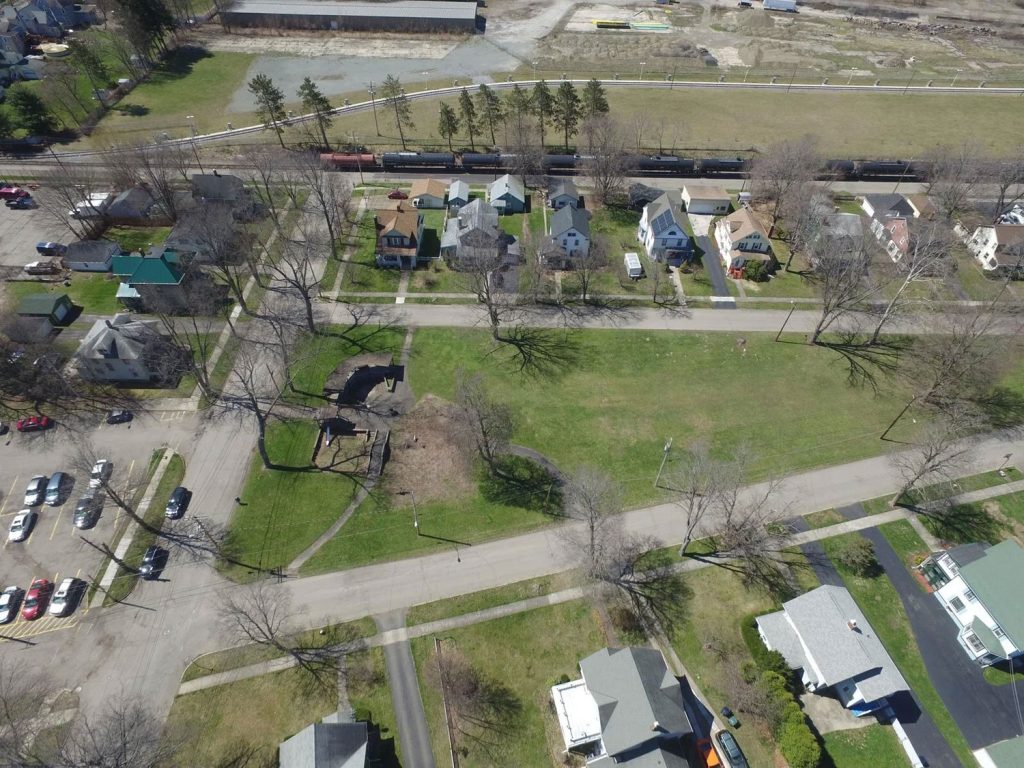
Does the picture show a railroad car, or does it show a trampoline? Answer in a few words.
railroad car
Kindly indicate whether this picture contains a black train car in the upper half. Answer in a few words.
Yes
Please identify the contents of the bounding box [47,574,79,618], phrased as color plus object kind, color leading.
white car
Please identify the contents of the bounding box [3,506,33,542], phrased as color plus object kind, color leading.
white car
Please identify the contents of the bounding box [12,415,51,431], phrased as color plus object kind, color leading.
red car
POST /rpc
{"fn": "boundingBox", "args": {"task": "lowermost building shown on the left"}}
[278,711,380,768]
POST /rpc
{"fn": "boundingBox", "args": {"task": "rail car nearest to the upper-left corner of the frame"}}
[317,146,378,169]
